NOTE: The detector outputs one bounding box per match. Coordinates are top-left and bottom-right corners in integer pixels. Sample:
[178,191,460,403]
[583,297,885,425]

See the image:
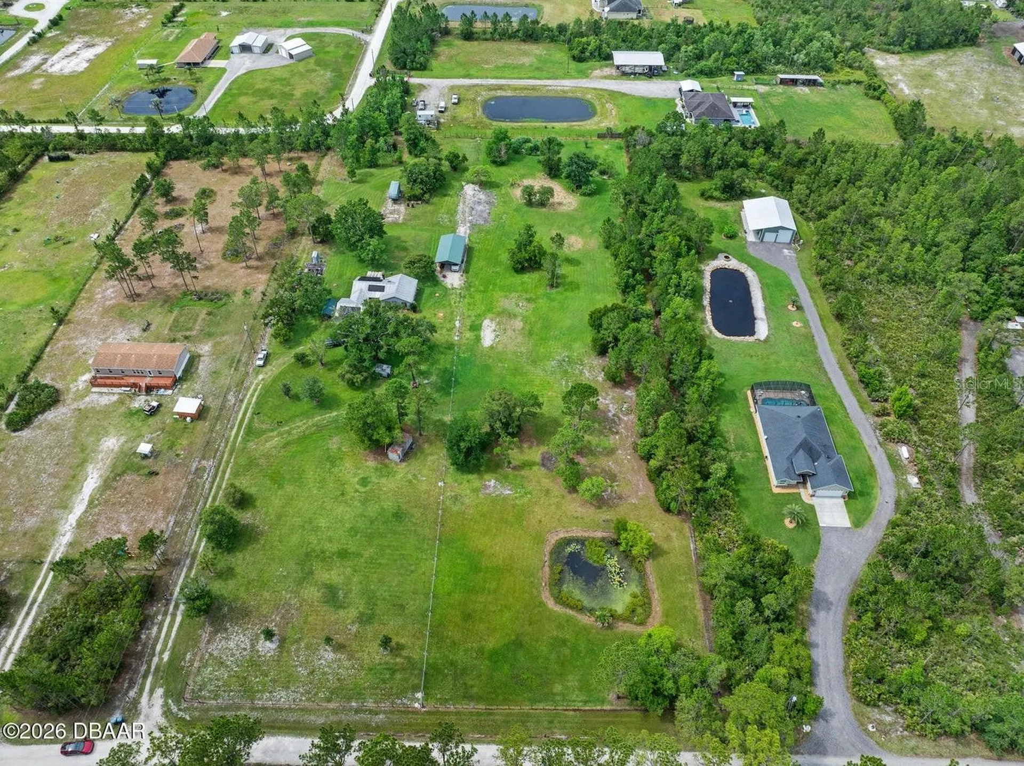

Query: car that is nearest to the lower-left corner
[58,743,93,760]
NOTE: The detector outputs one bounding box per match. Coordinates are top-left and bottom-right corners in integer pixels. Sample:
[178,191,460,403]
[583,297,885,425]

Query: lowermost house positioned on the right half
[754,406,853,498]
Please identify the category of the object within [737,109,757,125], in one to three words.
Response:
swimming pool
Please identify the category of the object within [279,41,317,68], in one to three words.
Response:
building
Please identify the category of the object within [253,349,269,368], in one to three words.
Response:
vehicle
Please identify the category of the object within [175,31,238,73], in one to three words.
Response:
house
